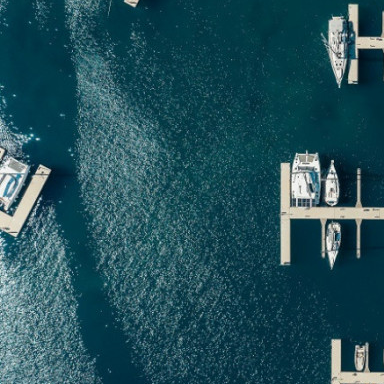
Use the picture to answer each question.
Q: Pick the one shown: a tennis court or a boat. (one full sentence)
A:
Of the two, only a boat appears.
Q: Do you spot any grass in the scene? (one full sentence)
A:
No, there's no grass in this view.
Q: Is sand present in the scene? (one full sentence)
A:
No, the scene doesn't show any sand.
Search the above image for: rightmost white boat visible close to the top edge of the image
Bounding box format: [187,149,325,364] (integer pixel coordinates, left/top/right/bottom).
[321,15,351,89]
